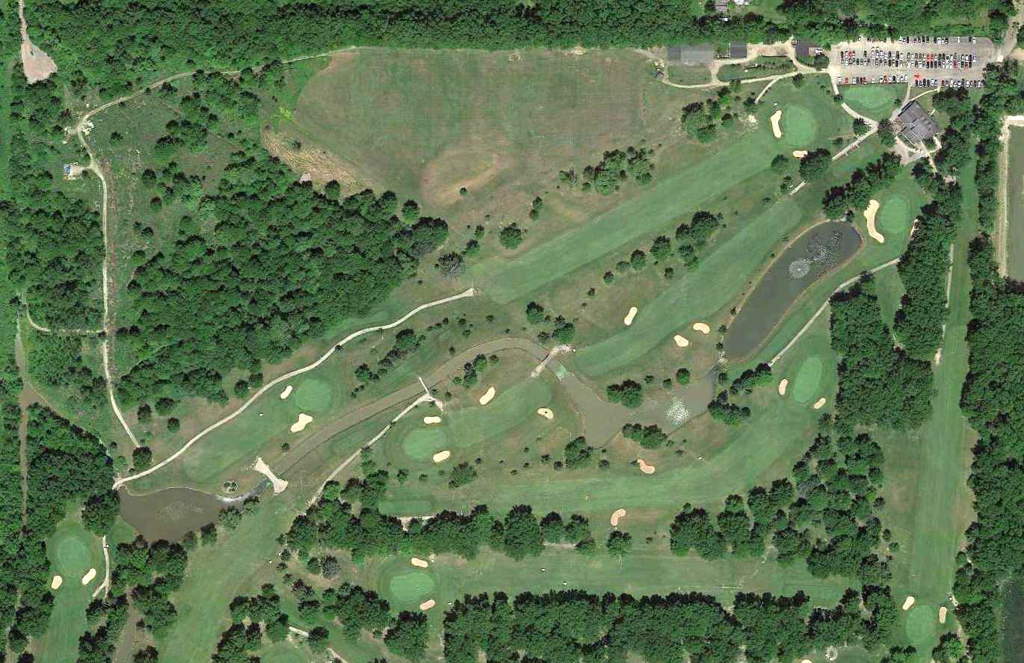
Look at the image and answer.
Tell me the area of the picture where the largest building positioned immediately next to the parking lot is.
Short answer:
top right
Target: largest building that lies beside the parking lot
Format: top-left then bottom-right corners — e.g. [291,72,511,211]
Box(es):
[899,100,941,141]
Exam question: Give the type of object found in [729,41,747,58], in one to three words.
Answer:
building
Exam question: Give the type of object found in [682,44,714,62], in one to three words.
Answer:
barn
